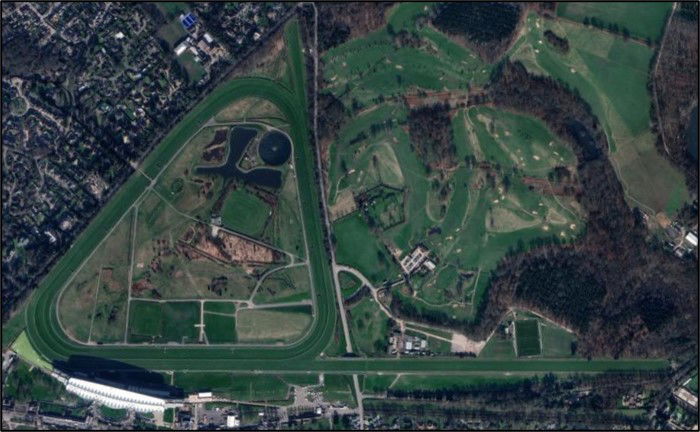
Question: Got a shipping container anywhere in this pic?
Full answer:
No, there isn't any shipping container down there.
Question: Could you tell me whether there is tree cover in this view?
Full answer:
Yes, some tree cover is visible.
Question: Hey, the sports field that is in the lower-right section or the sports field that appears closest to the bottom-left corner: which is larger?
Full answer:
Compared with the sports field that is in the lower-right section, the sports field that appears closest to the bottom-left corner is the larger one.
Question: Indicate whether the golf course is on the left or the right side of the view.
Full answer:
The golf course sits on the right side.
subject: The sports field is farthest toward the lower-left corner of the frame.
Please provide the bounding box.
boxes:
[128,301,199,343]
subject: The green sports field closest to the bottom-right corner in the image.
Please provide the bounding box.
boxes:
[517,320,542,356]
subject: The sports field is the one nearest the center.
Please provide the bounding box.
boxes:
[220,189,271,236]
